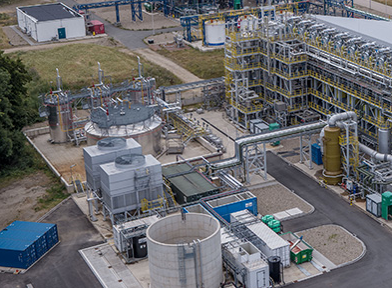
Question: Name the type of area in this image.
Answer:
industrial area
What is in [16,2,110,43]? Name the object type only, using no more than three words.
shed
